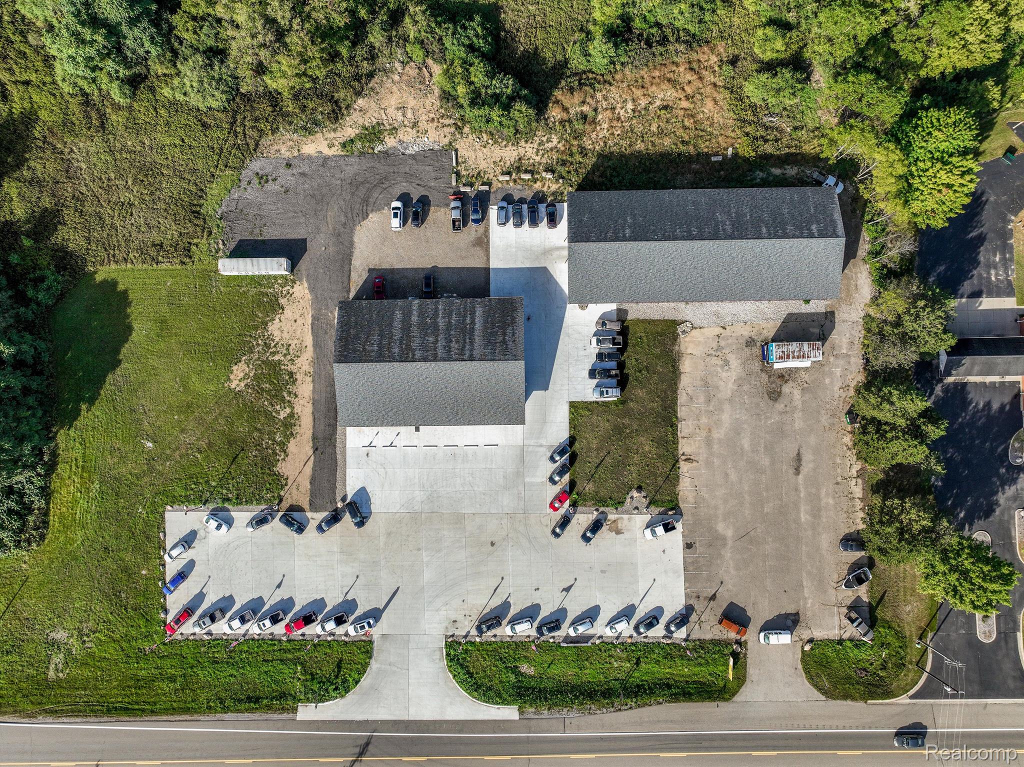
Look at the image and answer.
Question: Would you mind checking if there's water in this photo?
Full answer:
No, the picture contains no water.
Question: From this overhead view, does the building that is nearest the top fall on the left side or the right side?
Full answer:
It is on the right.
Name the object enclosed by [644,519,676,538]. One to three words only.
vehicle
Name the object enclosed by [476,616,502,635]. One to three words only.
car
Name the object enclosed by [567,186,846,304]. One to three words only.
building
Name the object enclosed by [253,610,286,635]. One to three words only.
truck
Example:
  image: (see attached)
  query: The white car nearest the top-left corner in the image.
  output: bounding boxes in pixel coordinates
[390,202,403,231]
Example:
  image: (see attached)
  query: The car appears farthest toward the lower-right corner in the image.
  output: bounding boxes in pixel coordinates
[892,733,924,748]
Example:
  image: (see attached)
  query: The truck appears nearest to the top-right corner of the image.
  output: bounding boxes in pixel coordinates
[808,170,843,192]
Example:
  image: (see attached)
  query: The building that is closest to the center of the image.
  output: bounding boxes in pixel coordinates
[333,296,525,427]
